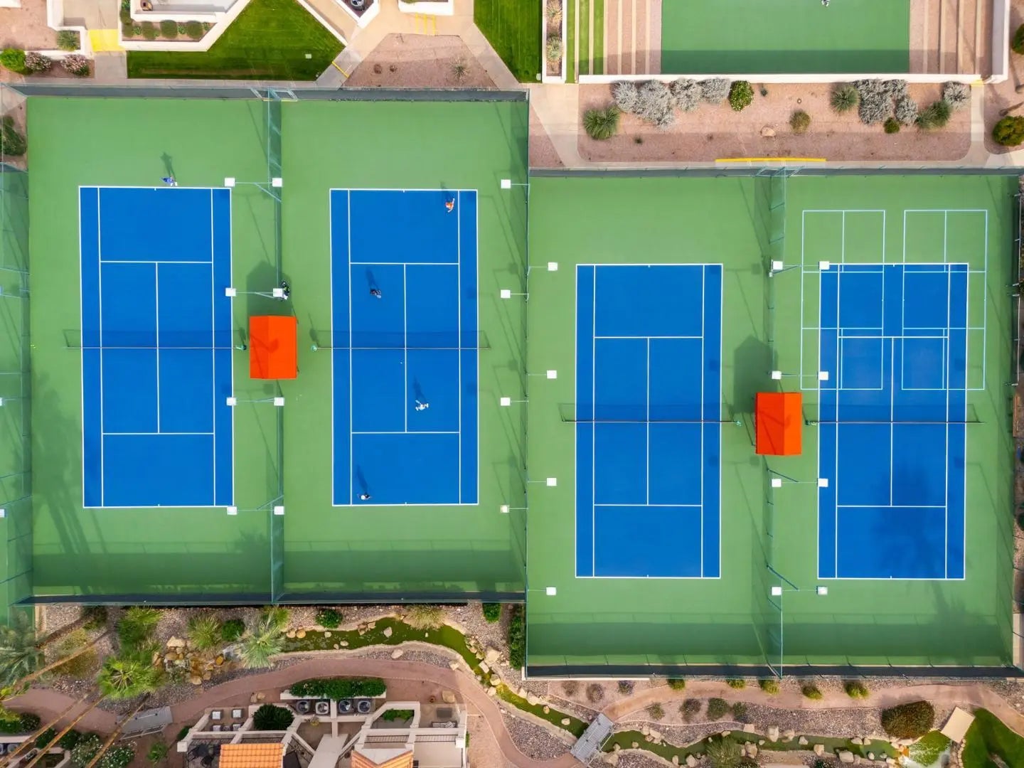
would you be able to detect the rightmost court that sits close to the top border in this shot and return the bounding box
[661,0,910,74]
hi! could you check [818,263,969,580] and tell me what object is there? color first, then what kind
blue tennis court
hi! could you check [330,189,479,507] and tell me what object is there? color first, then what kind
blue tennis court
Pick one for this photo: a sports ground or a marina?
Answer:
sports ground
